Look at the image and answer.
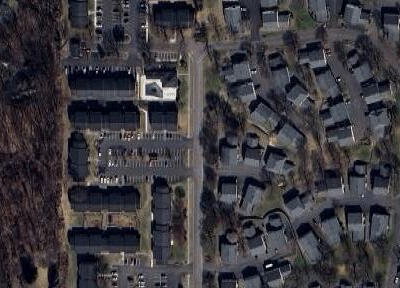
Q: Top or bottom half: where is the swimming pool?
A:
top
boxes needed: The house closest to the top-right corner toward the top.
[382,15,400,43]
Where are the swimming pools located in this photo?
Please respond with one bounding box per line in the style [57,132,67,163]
[141,76,176,101]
